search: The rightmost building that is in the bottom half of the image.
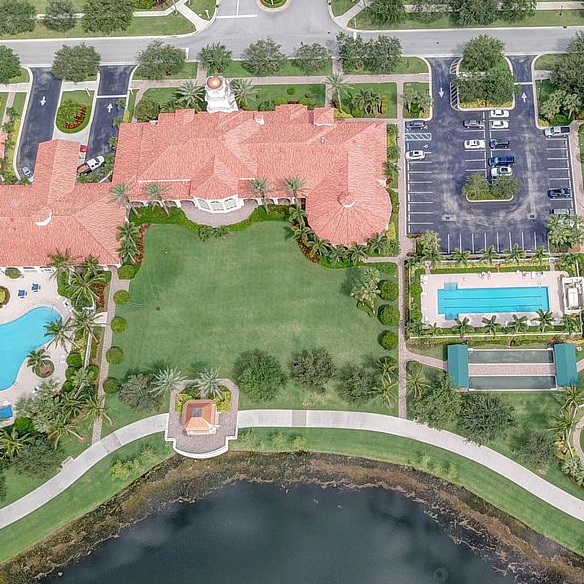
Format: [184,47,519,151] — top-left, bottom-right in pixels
[181,399,219,435]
